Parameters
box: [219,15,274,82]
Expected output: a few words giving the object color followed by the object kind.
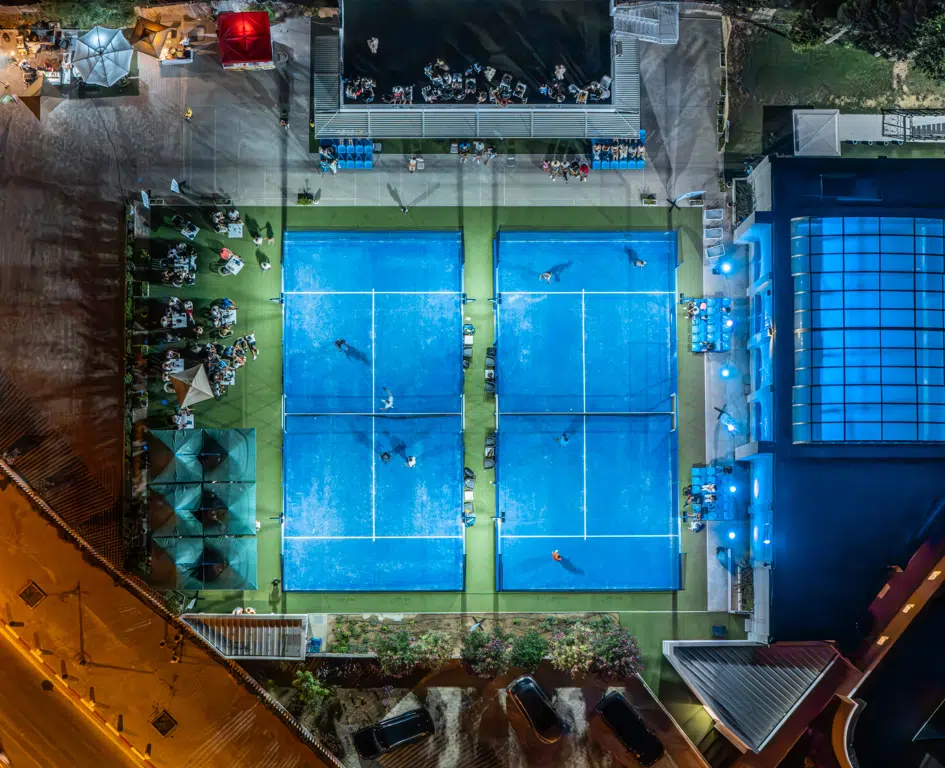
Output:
red tent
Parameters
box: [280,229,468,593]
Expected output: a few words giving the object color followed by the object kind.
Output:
blue sports court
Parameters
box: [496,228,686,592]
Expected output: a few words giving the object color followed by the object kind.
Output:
blue sports court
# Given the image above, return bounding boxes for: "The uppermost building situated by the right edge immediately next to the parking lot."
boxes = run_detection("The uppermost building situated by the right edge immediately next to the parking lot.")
[735,154,945,643]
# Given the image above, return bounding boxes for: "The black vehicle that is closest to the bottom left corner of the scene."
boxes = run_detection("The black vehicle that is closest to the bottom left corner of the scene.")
[351,707,436,757]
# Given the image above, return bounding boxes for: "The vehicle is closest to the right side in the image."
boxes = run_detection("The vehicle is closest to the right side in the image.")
[592,689,667,768]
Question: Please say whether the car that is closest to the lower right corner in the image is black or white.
black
